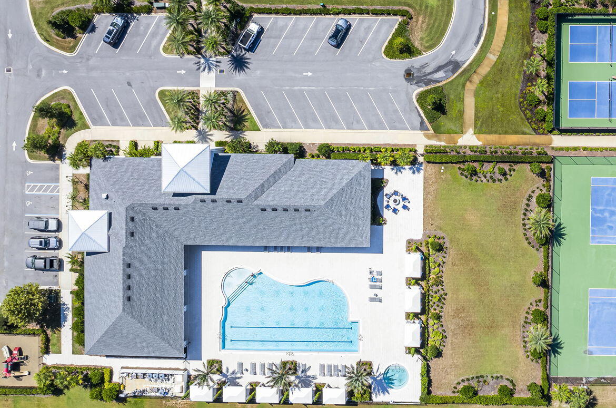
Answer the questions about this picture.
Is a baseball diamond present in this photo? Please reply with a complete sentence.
No, I find no baseball diamond anywhere in the image.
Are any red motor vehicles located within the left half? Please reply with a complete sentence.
No, there is no red motor vehicle within the left half.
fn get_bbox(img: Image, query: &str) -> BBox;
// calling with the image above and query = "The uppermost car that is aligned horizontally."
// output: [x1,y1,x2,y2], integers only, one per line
[27,217,62,232]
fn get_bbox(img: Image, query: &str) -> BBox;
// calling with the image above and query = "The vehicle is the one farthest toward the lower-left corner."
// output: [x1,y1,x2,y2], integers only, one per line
[26,256,61,271]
